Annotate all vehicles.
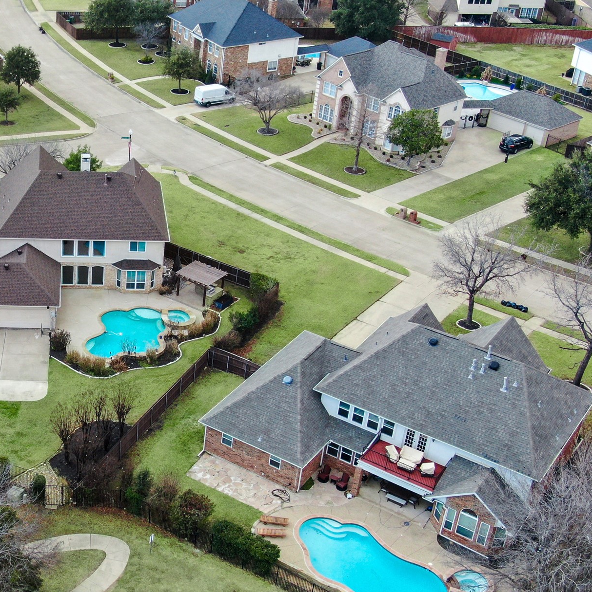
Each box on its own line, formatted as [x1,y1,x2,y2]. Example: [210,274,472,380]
[449,16,479,28]
[501,129,537,151]
[194,77,240,105]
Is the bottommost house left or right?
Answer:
right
